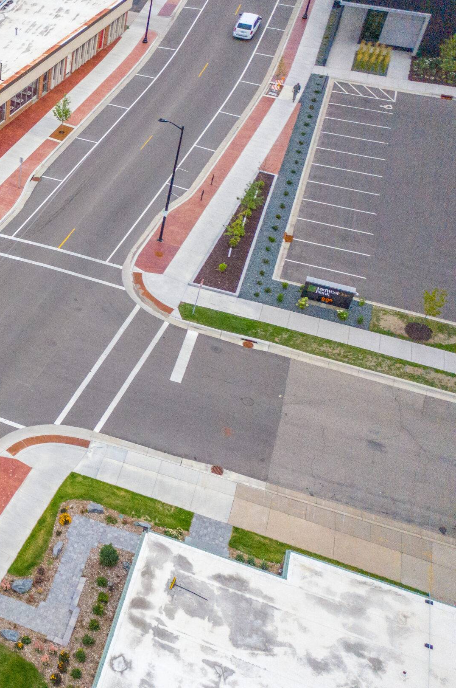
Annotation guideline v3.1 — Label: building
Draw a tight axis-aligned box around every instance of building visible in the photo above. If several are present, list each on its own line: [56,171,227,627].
[94,534,456,688]
[0,0,131,127]
[315,0,456,54]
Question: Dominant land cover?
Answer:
paved ground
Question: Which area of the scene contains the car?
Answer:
top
